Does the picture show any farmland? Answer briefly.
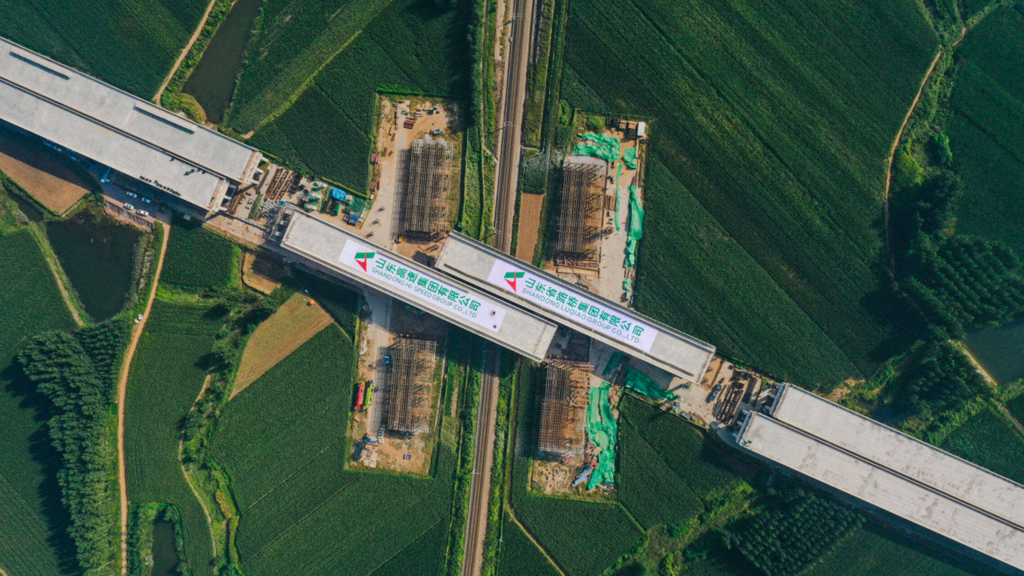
Yes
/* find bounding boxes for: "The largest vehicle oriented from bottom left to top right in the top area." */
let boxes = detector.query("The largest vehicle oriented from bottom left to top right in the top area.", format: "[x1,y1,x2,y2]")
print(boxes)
[97,165,111,182]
